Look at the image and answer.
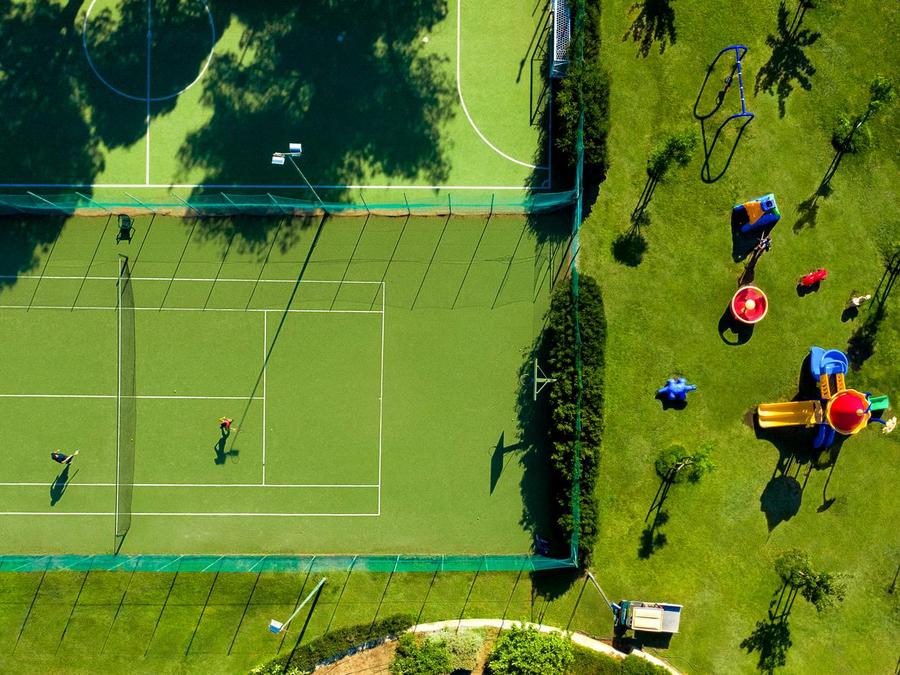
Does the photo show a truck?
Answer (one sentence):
Yes, you can see a truck in this photo.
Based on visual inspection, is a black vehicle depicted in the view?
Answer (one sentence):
No, I can see no black vehicle in this picture.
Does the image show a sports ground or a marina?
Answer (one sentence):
The area seen from above is a sports ground.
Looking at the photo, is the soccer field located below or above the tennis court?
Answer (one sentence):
The soccer field appears above the tennis court in the picture.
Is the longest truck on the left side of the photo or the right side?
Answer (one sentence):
The longest truck is on the right side of the image.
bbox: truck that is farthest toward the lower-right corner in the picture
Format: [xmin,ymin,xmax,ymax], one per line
[613,601,686,640]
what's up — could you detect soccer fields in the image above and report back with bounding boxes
[0,0,555,208]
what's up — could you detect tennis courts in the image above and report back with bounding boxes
[0,213,569,555]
